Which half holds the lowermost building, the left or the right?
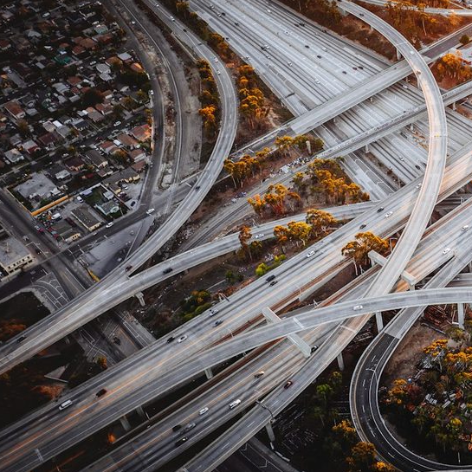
left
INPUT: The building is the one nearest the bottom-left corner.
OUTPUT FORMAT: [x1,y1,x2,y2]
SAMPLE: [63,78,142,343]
[0,232,39,279]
